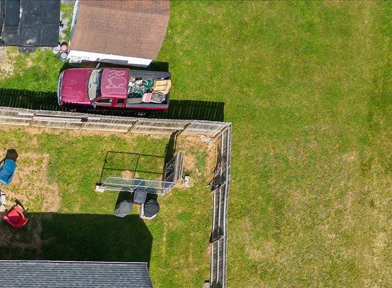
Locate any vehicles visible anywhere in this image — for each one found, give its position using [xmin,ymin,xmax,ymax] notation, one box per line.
[56,59,170,114]
[0,0,60,56]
